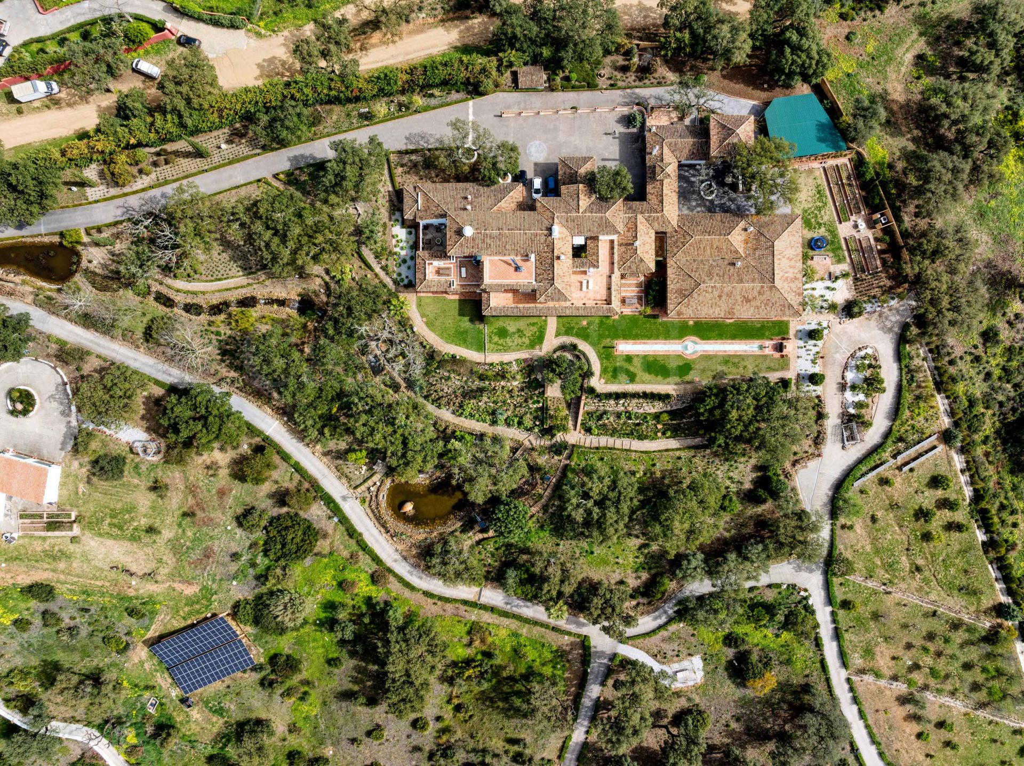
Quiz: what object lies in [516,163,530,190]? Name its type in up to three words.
car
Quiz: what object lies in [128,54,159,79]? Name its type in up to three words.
vehicle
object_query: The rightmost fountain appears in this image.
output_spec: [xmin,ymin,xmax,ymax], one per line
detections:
[614,336,789,359]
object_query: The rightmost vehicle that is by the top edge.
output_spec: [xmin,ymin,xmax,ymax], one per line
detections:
[173,30,203,49]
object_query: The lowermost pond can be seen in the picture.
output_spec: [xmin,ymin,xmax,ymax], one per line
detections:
[387,481,465,523]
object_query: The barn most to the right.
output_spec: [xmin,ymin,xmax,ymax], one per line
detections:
[760,93,847,158]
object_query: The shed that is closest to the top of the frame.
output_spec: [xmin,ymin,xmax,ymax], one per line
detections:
[518,65,543,92]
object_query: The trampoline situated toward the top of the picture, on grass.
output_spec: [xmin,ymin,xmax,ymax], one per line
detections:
[811,231,834,251]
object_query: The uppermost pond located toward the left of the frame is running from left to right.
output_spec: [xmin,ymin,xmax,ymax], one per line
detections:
[0,242,82,283]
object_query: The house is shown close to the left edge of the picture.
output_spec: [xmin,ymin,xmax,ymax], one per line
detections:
[0,450,60,521]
